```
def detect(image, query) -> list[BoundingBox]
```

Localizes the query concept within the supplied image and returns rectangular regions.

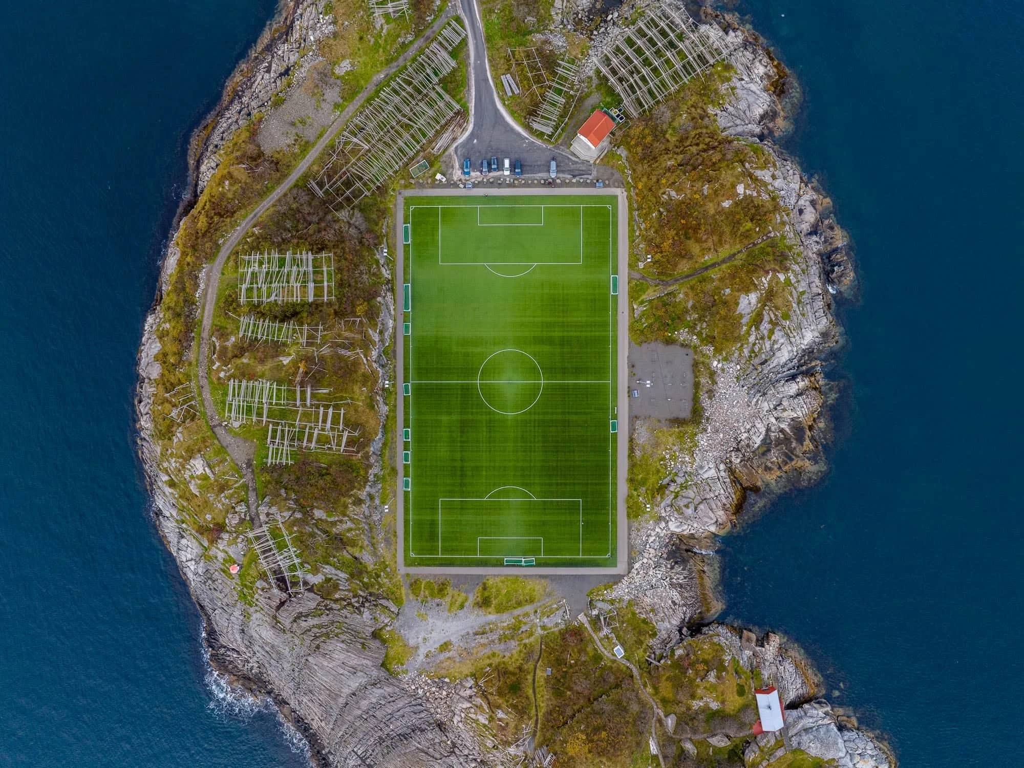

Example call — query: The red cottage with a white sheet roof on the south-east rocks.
[752,685,783,730]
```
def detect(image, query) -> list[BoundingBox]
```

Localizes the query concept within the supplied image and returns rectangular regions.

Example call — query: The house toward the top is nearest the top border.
[576,110,616,151]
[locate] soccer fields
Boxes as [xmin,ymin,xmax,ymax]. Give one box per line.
[404,196,618,567]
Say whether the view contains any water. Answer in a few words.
Yes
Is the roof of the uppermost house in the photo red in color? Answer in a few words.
Yes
